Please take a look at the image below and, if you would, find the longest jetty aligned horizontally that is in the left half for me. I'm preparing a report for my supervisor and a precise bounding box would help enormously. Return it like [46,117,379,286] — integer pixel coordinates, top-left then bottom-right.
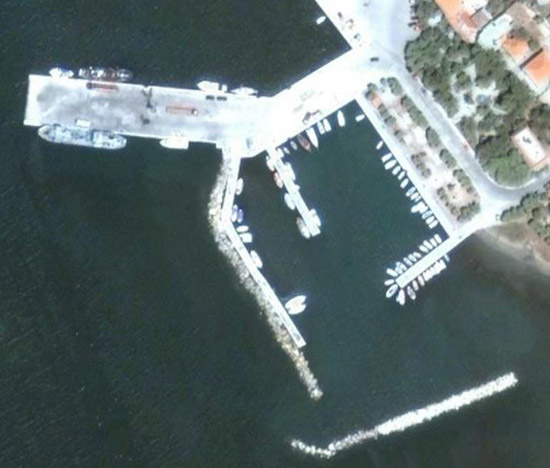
[24,75,258,157]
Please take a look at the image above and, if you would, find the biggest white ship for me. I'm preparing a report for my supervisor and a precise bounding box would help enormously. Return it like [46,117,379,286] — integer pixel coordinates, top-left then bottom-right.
[38,128,127,149]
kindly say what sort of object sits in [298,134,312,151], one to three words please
boat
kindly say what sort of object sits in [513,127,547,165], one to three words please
house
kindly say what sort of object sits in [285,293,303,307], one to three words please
boat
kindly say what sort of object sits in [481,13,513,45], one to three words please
house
